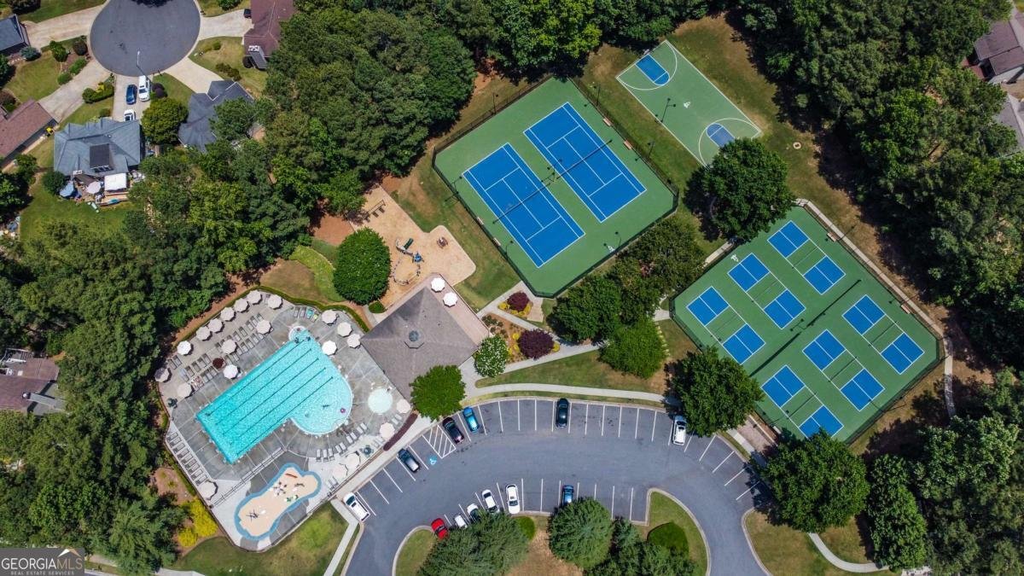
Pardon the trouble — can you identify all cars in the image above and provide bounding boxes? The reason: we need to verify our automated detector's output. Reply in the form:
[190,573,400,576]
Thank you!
[240,7,250,19]
[137,74,151,100]
[481,486,501,516]
[462,405,479,434]
[555,399,569,427]
[442,419,464,444]
[428,514,450,544]
[398,446,421,475]
[344,491,369,523]
[124,83,138,105]
[124,107,136,123]
[465,500,485,530]
[506,483,520,514]
[560,483,573,510]
[450,509,467,533]
[673,416,688,445]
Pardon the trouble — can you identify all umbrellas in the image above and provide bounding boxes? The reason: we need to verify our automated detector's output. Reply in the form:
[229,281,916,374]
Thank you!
[257,320,272,334]
[221,307,236,321]
[213,357,226,371]
[200,480,216,498]
[177,340,194,357]
[234,298,250,313]
[247,290,262,303]
[322,309,338,324]
[59,182,76,199]
[333,464,349,481]
[430,277,445,292]
[337,322,352,337]
[209,318,224,332]
[380,423,397,439]
[269,294,283,309]
[223,364,240,380]
[396,398,411,414]
[177,382,194,399]
[443,292,458,306]
[323,340,338,355]
[197,325,211,340]
[345,454,362,471]
[346,333,362,348]
[155,367,171,383]
[222,338,237,354]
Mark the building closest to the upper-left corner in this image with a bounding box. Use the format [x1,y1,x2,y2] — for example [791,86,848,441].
[0,15,30,68]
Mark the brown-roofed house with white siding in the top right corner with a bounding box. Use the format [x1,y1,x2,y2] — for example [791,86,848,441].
[967,20,1024,85]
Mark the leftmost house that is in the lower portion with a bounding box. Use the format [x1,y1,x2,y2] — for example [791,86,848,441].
[0,355,71,415]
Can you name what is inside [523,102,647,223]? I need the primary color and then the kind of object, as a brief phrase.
blue tennis court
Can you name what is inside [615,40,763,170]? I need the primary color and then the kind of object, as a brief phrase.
green basketball court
